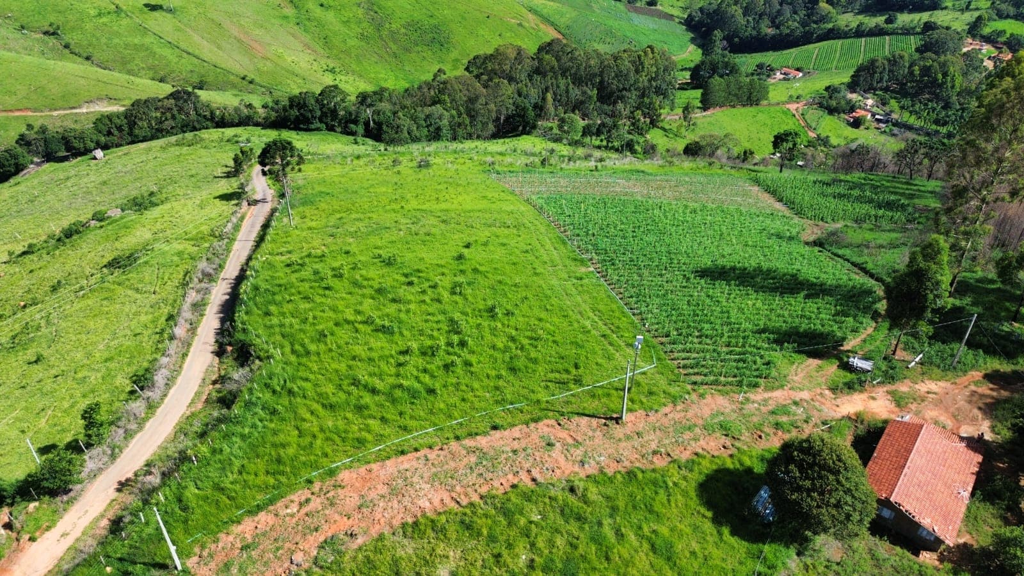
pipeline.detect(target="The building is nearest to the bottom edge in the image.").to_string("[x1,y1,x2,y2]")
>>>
[864,417,991,562]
